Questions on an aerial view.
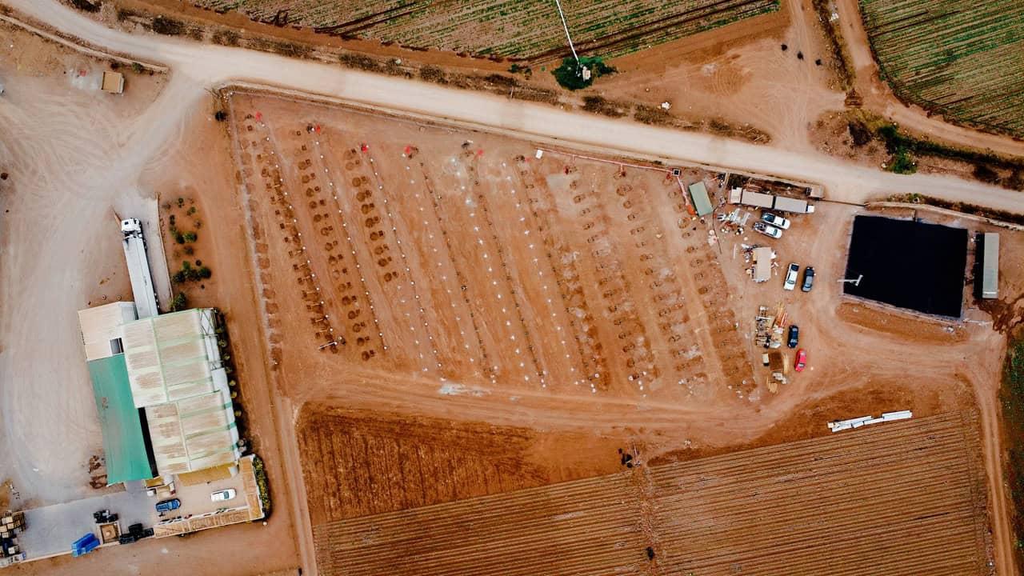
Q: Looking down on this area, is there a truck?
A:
Yes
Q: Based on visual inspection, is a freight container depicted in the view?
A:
Yes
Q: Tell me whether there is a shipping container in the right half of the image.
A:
Yes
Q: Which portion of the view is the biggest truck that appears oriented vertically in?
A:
left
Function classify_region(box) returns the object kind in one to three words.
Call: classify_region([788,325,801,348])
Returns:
vehicle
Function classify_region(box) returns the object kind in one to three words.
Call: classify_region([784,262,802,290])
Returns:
vehicle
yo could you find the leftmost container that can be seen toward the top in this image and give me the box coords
[686,181,713,217]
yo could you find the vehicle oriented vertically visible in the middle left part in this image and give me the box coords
[117,219,155,319]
